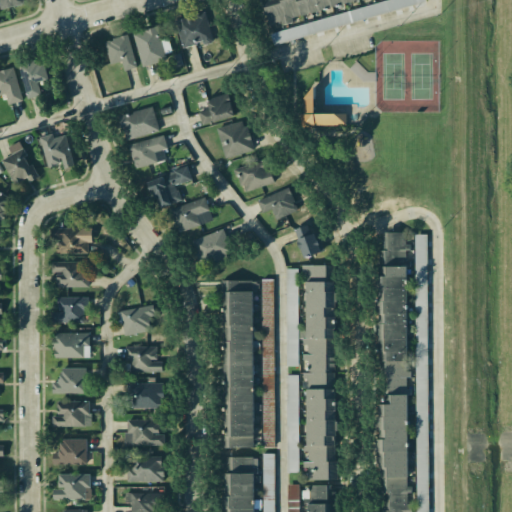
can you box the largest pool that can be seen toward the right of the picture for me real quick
[323,60,377,124]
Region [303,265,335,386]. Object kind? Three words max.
building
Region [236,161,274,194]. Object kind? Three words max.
house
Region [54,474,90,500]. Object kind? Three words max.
house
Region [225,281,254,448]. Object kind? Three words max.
building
